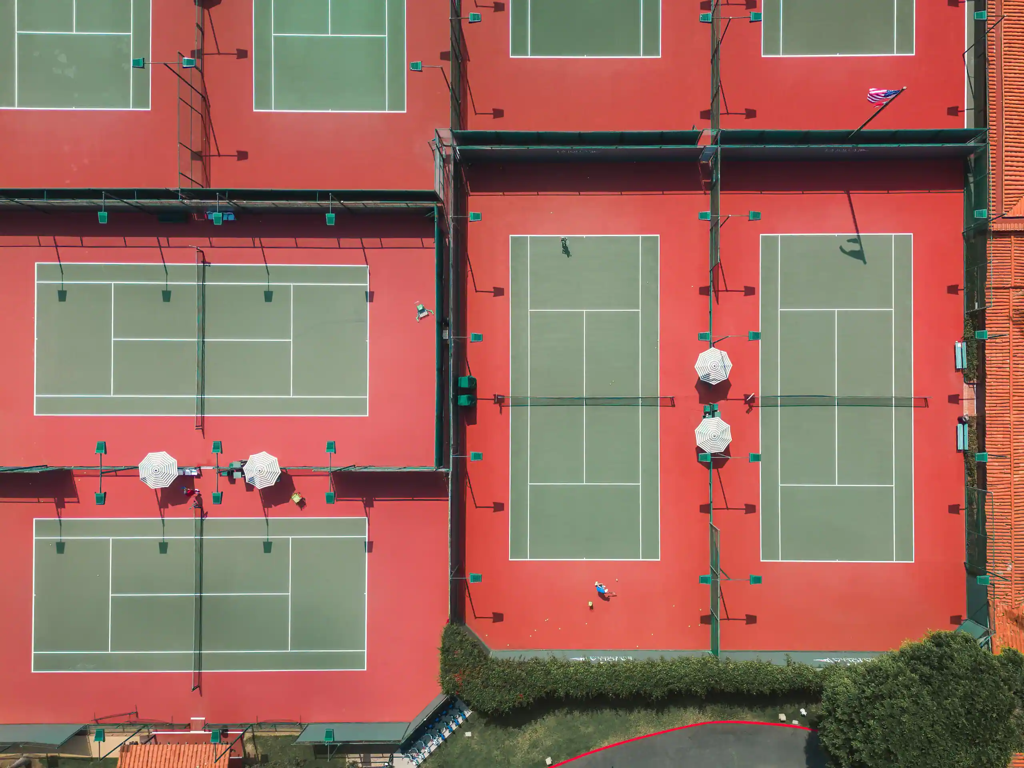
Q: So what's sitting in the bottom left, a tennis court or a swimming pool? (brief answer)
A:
tennis court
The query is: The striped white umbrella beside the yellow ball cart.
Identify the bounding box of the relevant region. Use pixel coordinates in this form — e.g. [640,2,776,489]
[246,450,285,488]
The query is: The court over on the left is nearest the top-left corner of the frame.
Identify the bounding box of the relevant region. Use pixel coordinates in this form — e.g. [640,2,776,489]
[0,0,202,191]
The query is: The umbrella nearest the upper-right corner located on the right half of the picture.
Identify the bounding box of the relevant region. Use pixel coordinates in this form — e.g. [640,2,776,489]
[693,347,732,386]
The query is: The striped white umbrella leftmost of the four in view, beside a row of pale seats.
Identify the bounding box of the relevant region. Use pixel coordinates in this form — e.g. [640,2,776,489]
[142,451,180,488]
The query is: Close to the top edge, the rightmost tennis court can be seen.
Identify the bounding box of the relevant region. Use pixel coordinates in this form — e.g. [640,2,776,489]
[721,0,966,147]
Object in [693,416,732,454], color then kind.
white umbrella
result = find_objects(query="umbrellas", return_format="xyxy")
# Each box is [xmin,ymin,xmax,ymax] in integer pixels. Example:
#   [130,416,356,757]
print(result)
[142,451,180,488]
[693,416,732,454]
[693,347,732,386]
[246,450,285,488]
